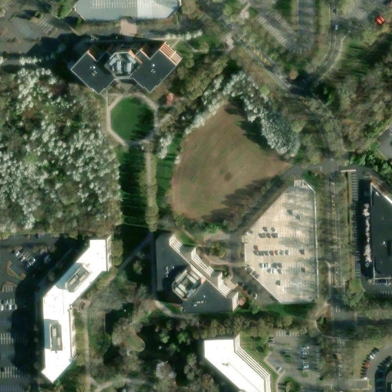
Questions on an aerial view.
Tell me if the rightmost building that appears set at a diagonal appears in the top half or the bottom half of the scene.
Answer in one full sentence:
The rightmost building that appears set at a diagonal sits in the bottom half of the picture.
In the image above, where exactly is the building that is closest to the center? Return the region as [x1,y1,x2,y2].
[156,229,241,314]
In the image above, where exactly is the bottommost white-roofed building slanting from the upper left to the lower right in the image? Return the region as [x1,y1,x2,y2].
[204,334,273,392]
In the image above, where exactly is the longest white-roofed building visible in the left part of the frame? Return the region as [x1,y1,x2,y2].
[42,232,115,383]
